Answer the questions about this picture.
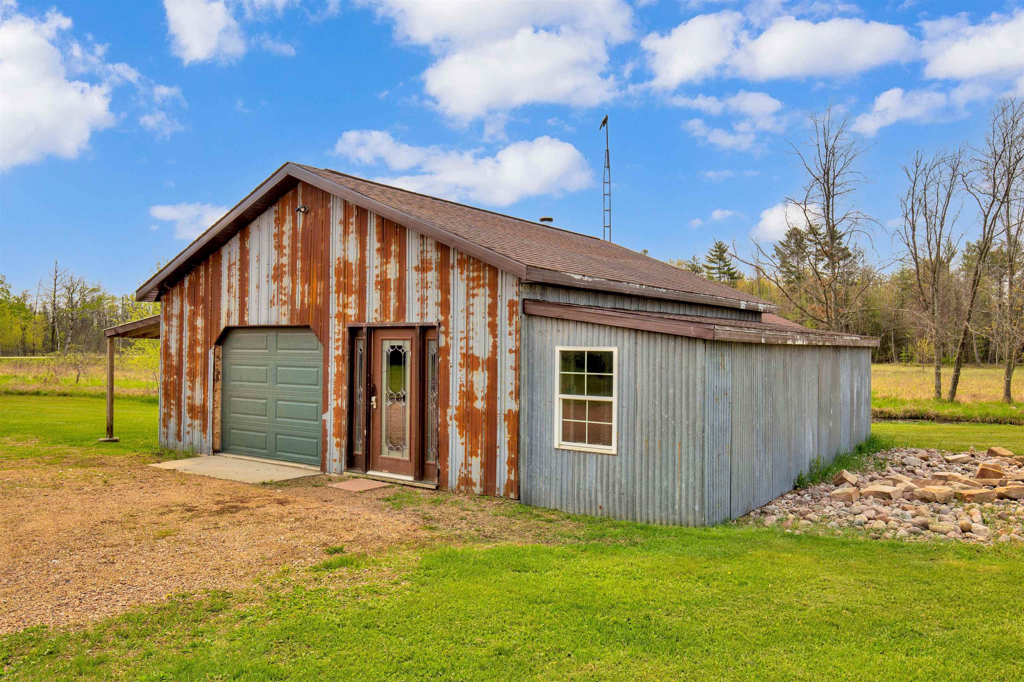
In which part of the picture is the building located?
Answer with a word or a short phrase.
center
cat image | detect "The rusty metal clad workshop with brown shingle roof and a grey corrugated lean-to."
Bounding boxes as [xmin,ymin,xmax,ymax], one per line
[100,160,881,526]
